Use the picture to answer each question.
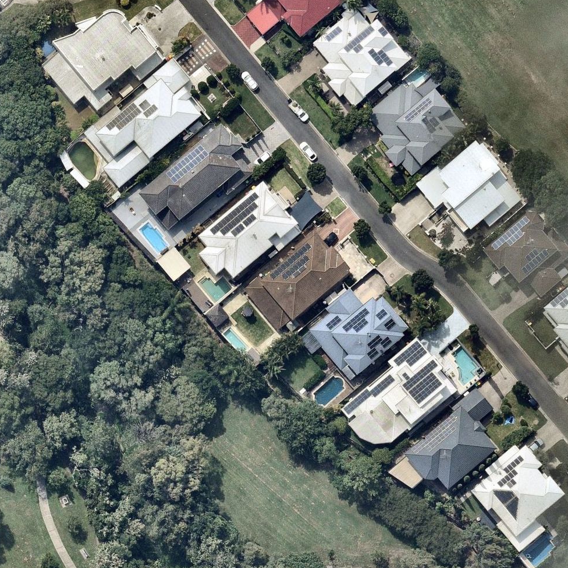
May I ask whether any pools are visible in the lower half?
Yes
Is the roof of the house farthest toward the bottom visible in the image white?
Yes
